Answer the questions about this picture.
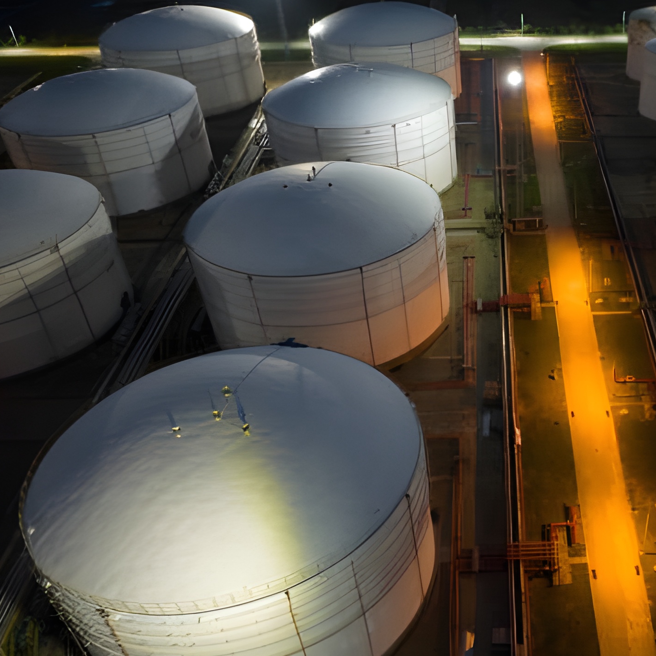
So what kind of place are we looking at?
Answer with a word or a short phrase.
industrial area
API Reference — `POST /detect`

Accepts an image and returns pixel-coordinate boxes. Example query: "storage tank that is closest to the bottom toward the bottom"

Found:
[0,337,439,656]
